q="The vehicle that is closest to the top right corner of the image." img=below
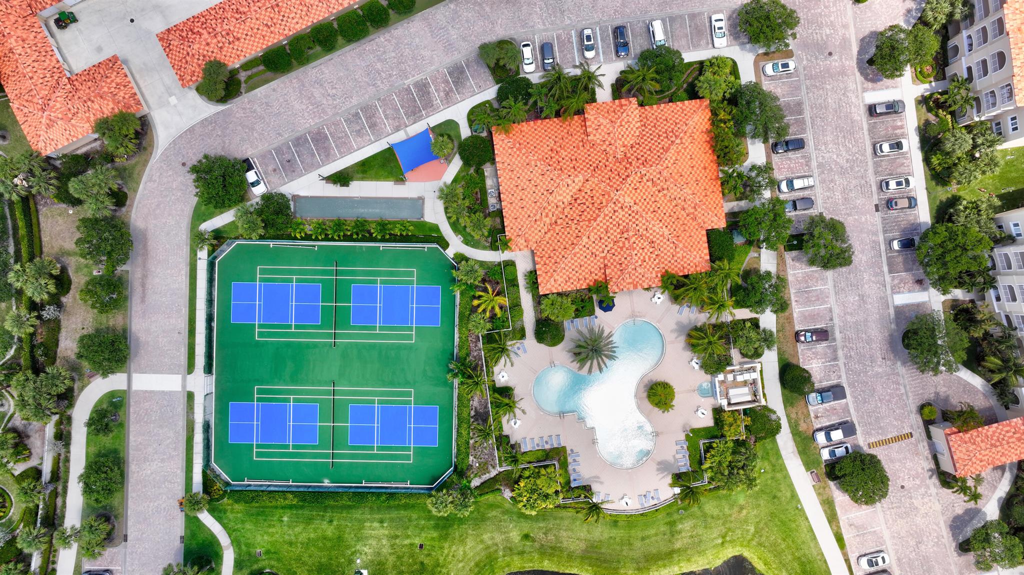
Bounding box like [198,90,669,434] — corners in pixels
[869,99,903,116]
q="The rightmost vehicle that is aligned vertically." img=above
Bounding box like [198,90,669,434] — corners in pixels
[710,14,727,48]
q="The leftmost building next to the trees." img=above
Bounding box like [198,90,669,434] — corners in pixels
[0,0,149,155]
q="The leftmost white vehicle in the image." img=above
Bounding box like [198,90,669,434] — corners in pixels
[241,157,269,196]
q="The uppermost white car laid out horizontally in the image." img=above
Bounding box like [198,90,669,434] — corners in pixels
[762,59,796,77]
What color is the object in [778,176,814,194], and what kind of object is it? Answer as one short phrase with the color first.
white car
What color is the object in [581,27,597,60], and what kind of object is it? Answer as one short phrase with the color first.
white car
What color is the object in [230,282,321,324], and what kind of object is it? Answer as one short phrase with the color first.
blue sports court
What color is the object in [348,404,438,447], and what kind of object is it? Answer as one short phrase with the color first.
blue sports court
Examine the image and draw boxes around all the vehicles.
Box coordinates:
[778,176,814,194]
[888,236,919,250]
[541,40,556,72]
[241,157,269,196]
[614,24,630,58]
[885,196,917,210]
[581,27,597,60]
[771,138,806,155]
[710,14,727,48]
[881,176,913,192]
[795,328,829,344]
[762,59,796,77]
[818,443,852,460]
[869,99,903,116]
[520,39,535,74]
[806,385,847,406]
[782,197,815,213]
[649,18,667,49]
[813,423,855,443]
[857,550,890,568]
